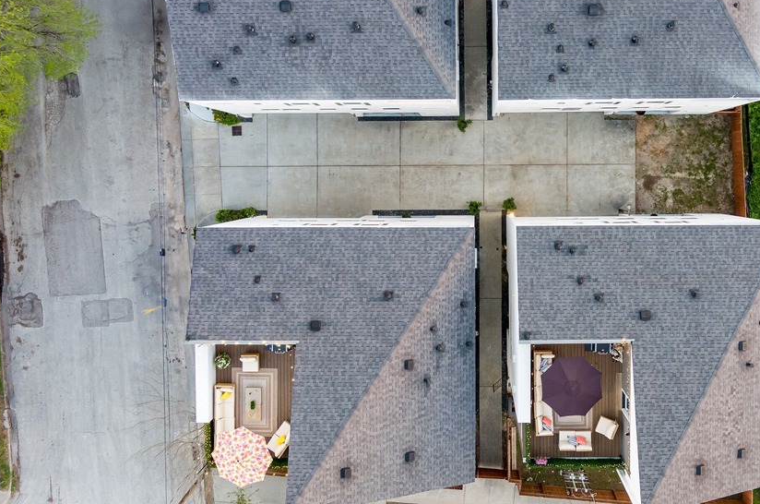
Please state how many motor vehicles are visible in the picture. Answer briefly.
0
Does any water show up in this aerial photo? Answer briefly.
No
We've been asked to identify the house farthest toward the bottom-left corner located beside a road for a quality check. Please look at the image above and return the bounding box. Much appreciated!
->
[183,216,477,504]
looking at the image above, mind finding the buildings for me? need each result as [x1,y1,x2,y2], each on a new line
[168,0,460,115]
[492,0,760,115]
[507,213,760,504]
[183,216,477,504]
